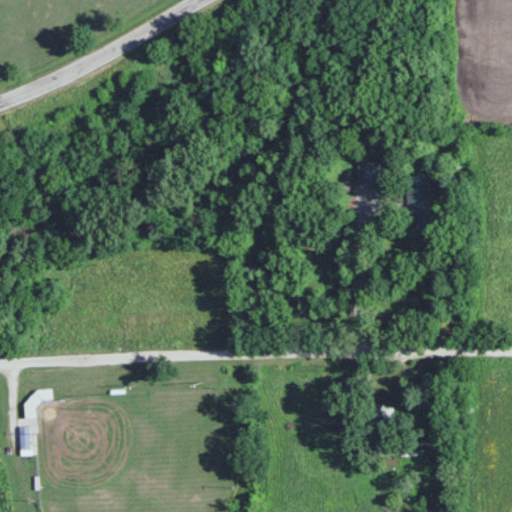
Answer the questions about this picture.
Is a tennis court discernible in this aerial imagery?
No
